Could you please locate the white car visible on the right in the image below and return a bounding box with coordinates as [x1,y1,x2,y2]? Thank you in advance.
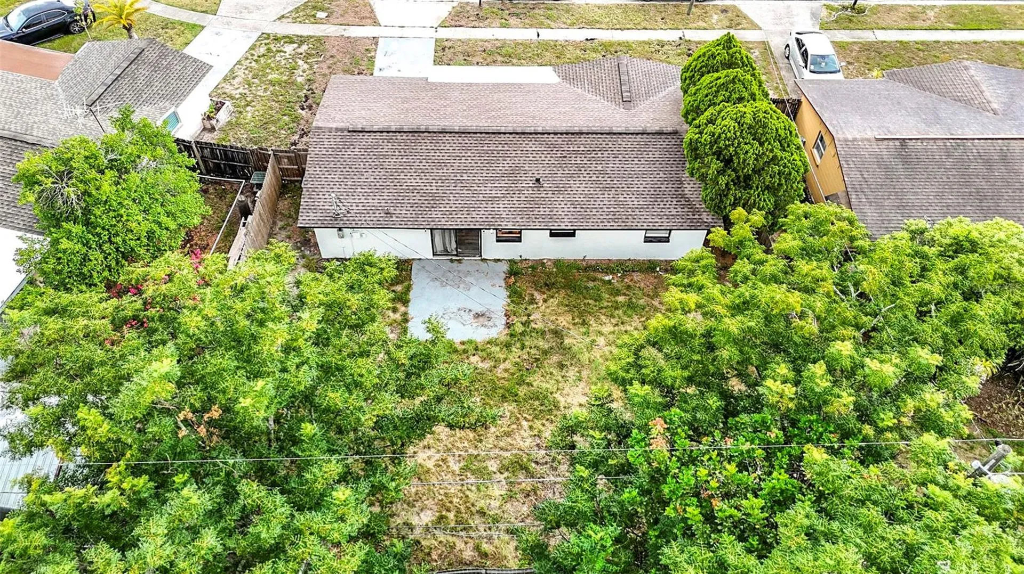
[787,28,847,77]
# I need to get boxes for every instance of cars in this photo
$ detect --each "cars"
[787,28,847,77]
[0,0,92,45]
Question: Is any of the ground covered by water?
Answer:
No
